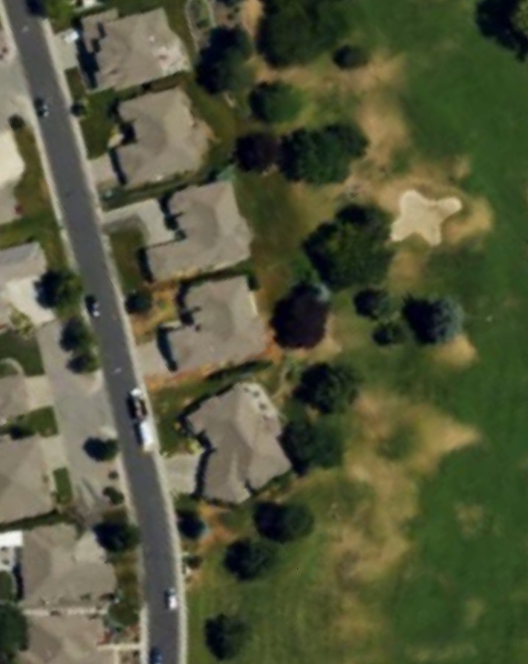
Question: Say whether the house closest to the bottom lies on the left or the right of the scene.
left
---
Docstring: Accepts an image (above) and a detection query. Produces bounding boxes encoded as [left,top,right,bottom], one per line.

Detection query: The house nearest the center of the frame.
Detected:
[159,277,265,371]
